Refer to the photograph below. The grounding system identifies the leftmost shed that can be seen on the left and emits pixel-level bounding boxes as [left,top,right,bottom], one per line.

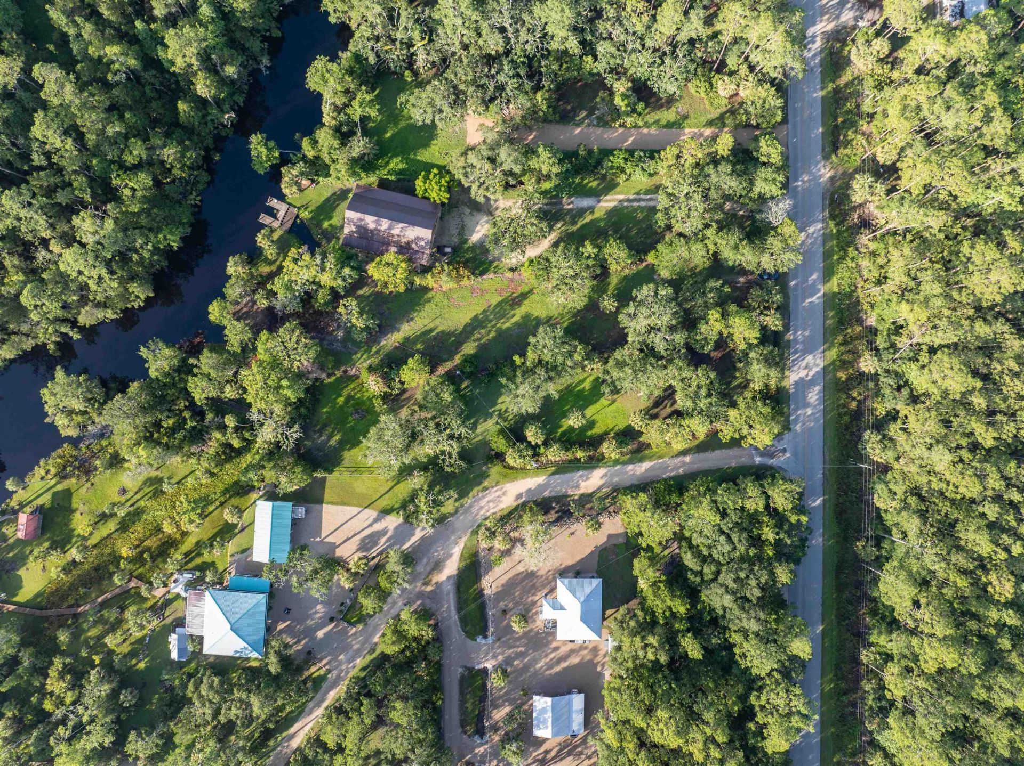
[17,503,50,539]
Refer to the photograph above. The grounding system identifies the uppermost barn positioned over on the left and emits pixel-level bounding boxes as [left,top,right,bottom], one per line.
[343,184,440,264]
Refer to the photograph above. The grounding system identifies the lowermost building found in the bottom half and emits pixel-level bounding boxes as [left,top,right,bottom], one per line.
[533,691,585,741]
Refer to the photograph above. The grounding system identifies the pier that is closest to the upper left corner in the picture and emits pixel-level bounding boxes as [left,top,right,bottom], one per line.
[257,196,299,232]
